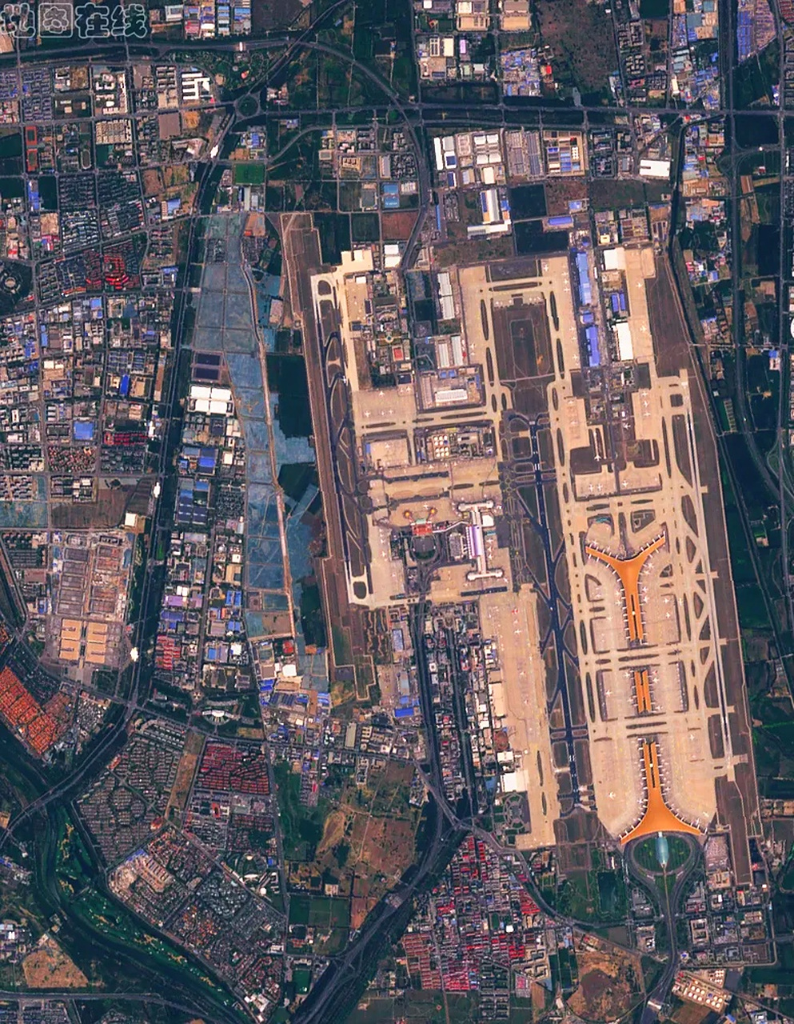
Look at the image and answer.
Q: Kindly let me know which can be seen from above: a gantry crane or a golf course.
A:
golf course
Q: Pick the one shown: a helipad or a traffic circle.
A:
traffic circle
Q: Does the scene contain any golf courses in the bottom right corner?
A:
No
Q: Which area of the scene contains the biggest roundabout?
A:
bottom right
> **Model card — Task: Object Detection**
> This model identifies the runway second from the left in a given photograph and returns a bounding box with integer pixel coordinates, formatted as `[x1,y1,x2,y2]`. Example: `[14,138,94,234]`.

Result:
[529,421,580,802]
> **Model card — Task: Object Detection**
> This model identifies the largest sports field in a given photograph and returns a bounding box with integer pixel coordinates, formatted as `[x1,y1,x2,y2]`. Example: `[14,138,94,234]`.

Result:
[234,162,265,184]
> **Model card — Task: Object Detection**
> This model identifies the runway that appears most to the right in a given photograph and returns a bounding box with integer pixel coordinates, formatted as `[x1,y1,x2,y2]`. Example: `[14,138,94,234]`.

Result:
[683,376,735,780]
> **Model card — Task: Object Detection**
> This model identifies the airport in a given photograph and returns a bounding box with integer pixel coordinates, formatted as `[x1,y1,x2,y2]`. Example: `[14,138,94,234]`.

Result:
[281,214,764,884]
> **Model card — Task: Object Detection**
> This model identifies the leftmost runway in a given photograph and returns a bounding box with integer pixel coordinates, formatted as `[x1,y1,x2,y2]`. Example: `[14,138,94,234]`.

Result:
[310,276,353,604]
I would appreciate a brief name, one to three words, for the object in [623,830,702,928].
roundabout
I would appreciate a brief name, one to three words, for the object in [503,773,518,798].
hangar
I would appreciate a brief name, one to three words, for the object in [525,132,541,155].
shed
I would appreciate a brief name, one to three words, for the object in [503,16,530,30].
building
